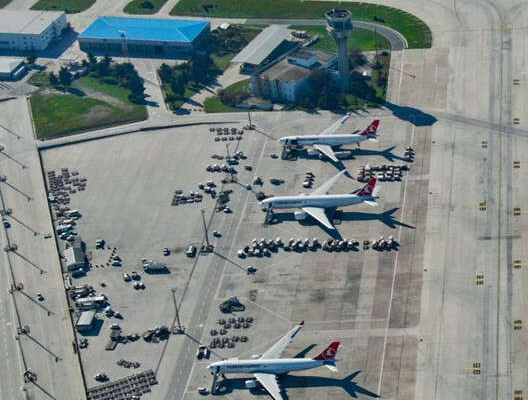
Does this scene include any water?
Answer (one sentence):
No, no water is visible.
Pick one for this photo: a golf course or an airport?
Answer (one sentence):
This image shows an airport.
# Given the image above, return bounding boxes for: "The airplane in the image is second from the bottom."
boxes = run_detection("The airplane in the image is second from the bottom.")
[257,169,375,226]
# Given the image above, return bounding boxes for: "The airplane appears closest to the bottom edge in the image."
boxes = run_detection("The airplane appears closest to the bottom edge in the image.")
[208,318,338,400]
